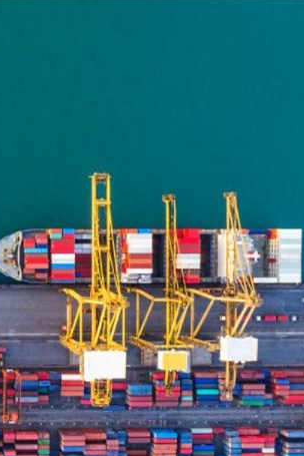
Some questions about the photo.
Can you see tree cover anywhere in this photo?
No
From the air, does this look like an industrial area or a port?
port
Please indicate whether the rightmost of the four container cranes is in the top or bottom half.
bottom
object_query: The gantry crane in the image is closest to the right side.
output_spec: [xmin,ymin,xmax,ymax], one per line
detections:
[186,193,260,402]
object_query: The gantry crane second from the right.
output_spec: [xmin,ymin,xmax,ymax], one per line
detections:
[126,196,195,391]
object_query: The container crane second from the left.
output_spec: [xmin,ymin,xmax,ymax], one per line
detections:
[60,175,130,410]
